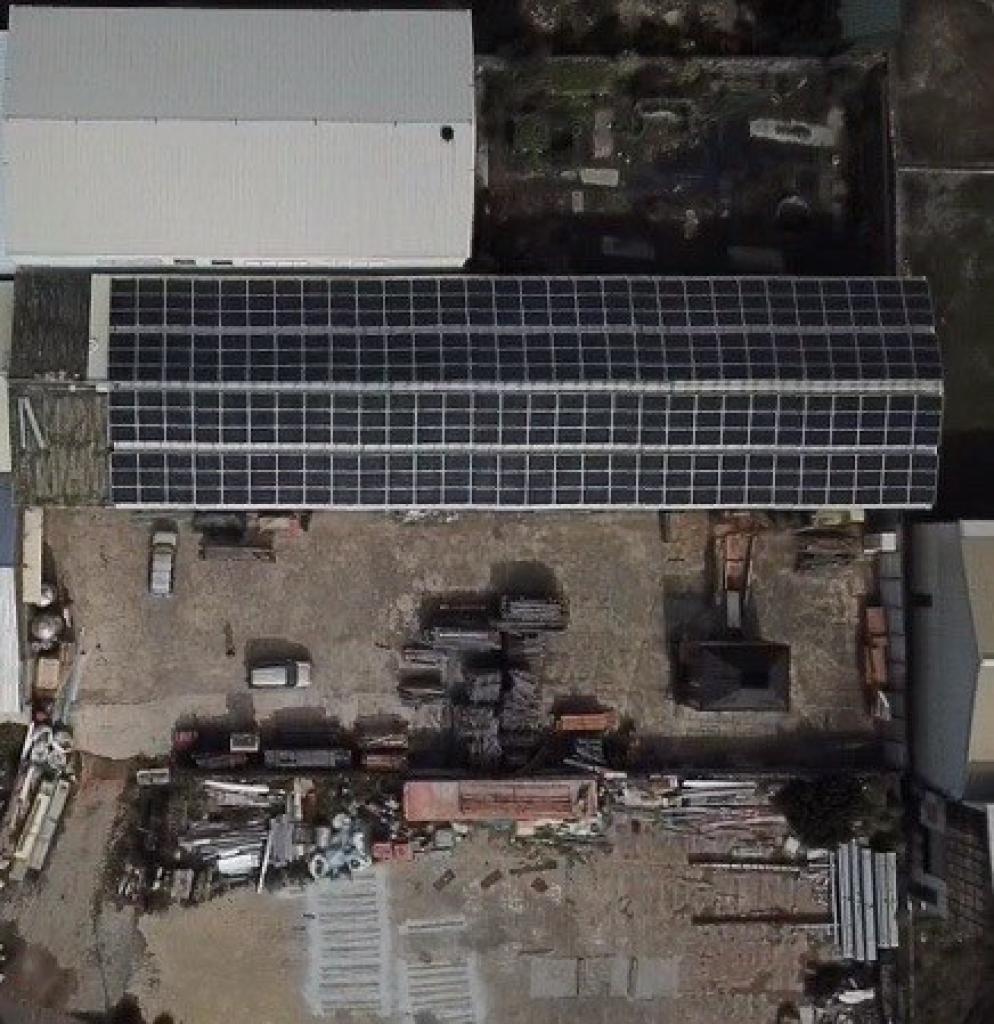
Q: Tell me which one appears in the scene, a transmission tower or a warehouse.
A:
warehouse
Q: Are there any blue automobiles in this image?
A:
No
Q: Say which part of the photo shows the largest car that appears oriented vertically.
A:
left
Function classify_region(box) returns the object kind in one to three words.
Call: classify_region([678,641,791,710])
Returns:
shed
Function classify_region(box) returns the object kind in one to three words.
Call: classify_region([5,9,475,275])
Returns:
warehouse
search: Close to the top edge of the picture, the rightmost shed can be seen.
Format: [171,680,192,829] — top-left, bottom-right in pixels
[828,0,900,62]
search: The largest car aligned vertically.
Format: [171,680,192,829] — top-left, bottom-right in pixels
[150,530,181,596]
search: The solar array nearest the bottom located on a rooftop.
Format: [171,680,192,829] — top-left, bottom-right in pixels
[111,453,938,505]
